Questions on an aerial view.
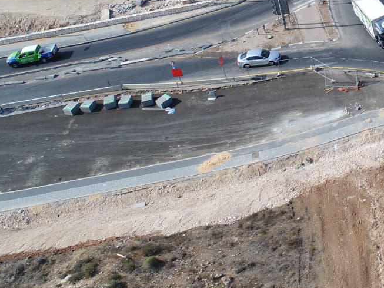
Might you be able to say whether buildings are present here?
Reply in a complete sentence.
No, there is no building in the image.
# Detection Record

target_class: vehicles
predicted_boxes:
[236,49,281,68]
[353,0,384,46]
[6,45,60,71]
